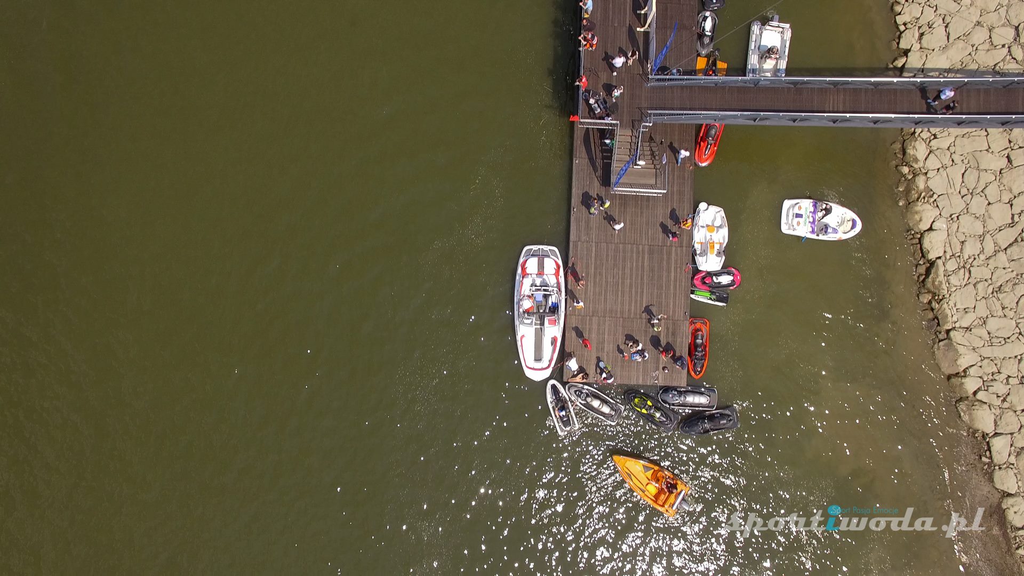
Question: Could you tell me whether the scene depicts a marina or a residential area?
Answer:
marina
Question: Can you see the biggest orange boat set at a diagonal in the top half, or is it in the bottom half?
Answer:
bottom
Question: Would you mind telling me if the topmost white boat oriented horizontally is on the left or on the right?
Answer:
right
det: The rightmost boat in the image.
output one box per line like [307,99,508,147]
[776,200,862,242]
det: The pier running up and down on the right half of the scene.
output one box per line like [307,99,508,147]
[564,0,697,385]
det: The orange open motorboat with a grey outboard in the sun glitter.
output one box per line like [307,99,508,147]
[610,453,692,516]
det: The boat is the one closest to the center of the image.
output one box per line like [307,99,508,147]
[514,244,566,382]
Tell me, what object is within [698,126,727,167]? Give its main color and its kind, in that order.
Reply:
red boat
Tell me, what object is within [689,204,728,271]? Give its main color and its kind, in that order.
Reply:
white boat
